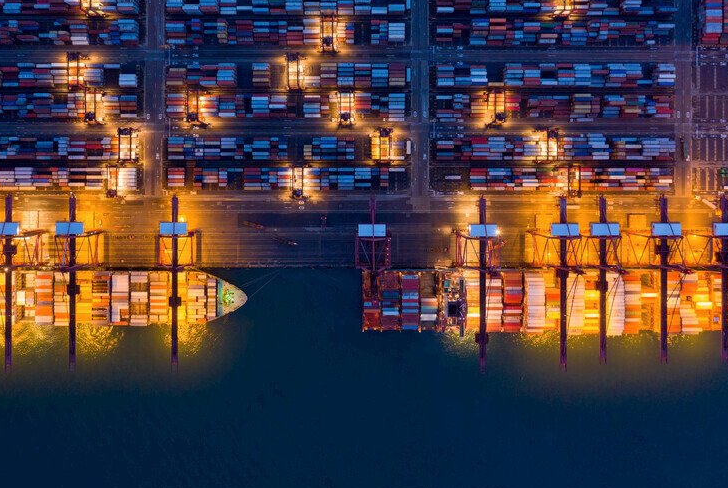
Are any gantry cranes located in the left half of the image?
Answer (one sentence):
Yes, looking in the left half of the image, one can make out a gantry crane.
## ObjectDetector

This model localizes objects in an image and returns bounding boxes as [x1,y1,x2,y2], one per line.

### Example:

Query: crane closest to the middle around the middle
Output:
[345,191,392,306]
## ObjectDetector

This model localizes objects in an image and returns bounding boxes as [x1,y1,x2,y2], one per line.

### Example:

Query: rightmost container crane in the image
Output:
[673,192,728,362]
